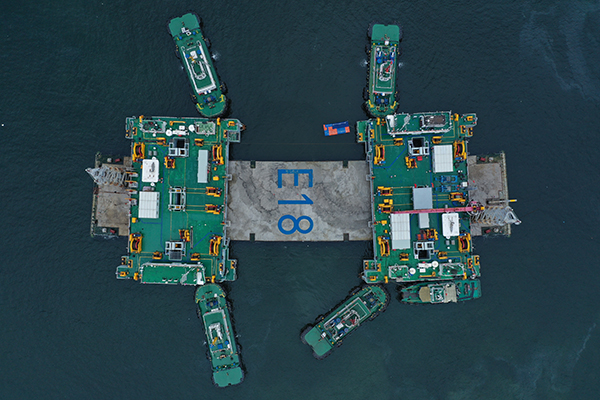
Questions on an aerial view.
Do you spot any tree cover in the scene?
No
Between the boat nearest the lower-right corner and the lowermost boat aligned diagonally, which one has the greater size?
the lowermost boat aligned diagonally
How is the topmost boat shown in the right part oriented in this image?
up and down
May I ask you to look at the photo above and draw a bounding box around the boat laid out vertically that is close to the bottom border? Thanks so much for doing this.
[195,282,248,392]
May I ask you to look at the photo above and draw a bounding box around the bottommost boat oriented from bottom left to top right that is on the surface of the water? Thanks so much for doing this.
[298,281,391,361]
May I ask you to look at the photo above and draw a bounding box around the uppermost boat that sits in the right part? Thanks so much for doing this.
[363,20,404,118]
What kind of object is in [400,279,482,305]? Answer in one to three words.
boat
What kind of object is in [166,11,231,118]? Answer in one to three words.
boat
